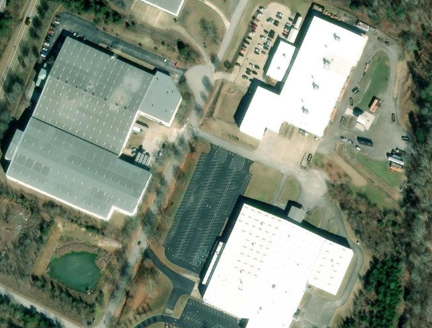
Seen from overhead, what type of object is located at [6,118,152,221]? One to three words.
building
